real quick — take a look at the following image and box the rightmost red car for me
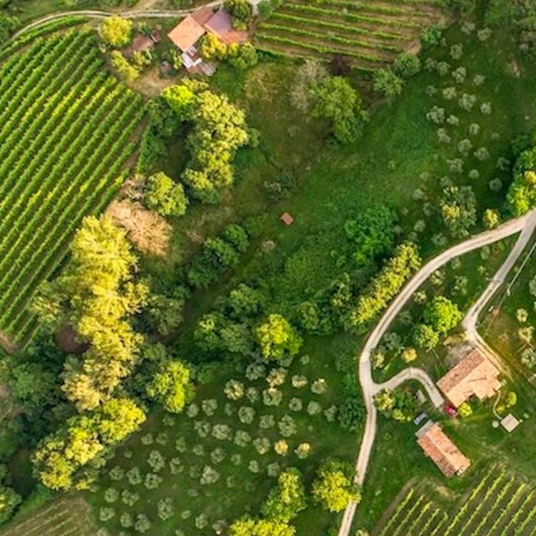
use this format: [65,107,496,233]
[444,403,459,416]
